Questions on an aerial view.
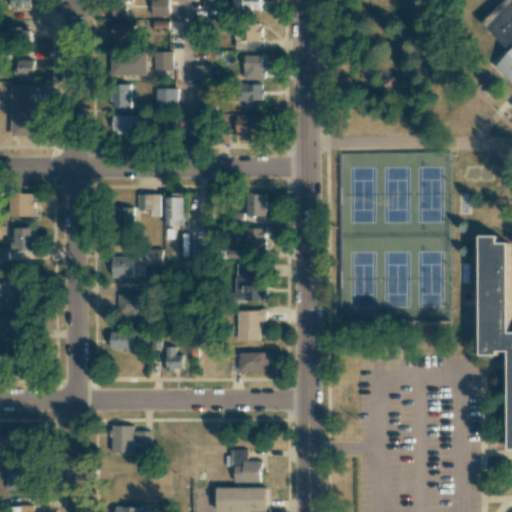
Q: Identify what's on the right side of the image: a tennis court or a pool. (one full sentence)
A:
What appears on the right side of the image is a tennis court.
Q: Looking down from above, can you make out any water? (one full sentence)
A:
No, there is no water in the image.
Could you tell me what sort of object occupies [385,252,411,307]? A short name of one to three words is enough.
tennis court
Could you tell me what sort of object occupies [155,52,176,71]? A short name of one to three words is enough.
building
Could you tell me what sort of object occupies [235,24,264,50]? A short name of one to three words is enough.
house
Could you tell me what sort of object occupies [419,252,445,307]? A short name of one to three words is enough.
tennis court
